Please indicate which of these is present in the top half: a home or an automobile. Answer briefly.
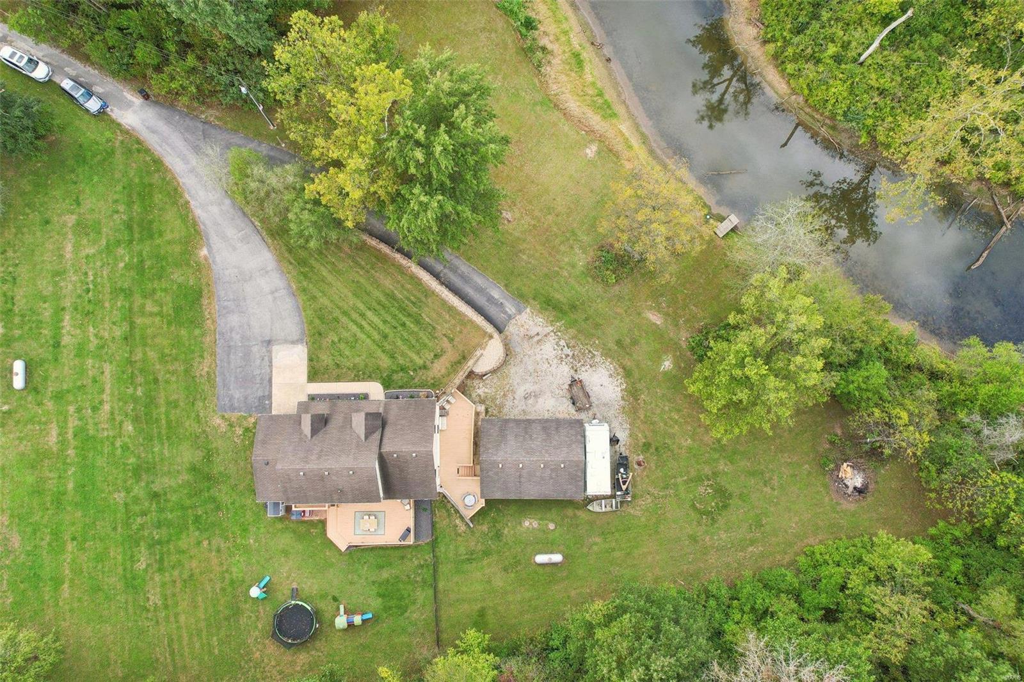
automobile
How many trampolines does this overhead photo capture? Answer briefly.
1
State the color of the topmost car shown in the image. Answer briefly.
white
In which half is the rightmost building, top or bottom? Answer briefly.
bottom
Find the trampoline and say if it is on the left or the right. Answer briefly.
left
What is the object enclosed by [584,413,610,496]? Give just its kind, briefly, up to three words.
trailer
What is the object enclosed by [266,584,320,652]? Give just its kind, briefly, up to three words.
trampoline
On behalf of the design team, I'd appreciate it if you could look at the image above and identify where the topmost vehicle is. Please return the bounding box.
[0,45,57,88]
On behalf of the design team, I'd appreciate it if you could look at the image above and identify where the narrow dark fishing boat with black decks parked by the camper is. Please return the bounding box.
[616,453,632,500]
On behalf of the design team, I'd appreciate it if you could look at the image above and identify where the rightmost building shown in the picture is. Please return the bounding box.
[479,418,586,500]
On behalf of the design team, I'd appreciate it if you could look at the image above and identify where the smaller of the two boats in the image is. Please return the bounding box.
[587,499,621,513]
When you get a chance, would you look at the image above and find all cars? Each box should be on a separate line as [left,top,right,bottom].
[54,73,113,117]
[0,45,57,88]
